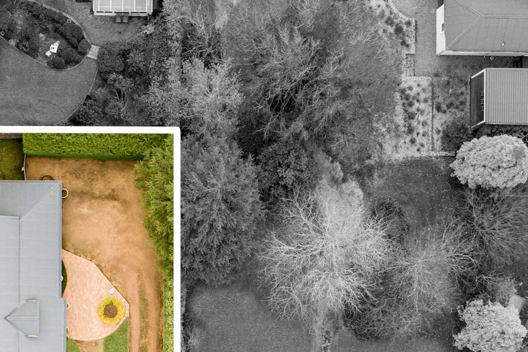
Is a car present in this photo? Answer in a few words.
No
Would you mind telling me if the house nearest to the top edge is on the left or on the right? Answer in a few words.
right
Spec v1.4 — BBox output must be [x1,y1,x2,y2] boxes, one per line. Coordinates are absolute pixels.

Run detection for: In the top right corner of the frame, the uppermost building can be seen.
[430,0,528,59]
